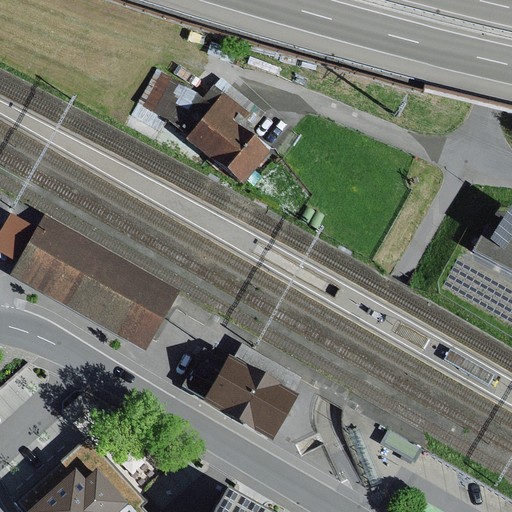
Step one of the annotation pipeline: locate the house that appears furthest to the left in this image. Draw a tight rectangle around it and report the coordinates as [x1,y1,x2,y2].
[0,208,30,268]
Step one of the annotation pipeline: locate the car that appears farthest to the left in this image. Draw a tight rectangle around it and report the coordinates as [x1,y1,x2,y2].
[17,444,38,464]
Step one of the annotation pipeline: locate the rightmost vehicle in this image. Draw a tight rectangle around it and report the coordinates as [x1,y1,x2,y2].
[469,482,482,505]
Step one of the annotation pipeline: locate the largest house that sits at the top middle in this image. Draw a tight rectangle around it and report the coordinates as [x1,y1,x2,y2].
[186,93,272,184]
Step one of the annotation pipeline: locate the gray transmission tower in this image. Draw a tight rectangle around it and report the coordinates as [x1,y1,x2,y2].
[392,100,411,118]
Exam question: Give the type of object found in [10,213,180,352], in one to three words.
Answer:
building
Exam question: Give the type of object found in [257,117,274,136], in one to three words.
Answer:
car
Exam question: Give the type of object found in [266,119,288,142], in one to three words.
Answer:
truck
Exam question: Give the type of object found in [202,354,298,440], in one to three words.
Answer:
house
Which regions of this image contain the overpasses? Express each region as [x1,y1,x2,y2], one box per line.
[422,86,512,115]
